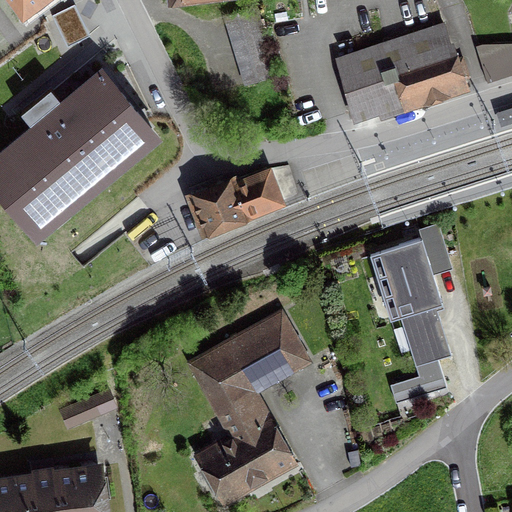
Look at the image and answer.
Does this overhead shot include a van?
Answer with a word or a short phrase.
Yes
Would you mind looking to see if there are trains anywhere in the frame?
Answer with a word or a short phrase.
No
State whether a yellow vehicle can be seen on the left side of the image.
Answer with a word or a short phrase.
Yes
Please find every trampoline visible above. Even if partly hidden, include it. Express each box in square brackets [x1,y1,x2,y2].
[143,494,159,510]
[36,36,52,52]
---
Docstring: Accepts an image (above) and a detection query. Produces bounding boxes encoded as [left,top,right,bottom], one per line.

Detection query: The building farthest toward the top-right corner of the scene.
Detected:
[476,42,512,84]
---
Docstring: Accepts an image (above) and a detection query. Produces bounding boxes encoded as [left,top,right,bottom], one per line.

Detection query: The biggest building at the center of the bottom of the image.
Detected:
[188,308,312,506]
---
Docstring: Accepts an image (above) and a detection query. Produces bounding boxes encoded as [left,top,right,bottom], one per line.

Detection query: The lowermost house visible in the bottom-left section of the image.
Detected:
[0,452,111,512]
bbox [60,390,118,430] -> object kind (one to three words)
shed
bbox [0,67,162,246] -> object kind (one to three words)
building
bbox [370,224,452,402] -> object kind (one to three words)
house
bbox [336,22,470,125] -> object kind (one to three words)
building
